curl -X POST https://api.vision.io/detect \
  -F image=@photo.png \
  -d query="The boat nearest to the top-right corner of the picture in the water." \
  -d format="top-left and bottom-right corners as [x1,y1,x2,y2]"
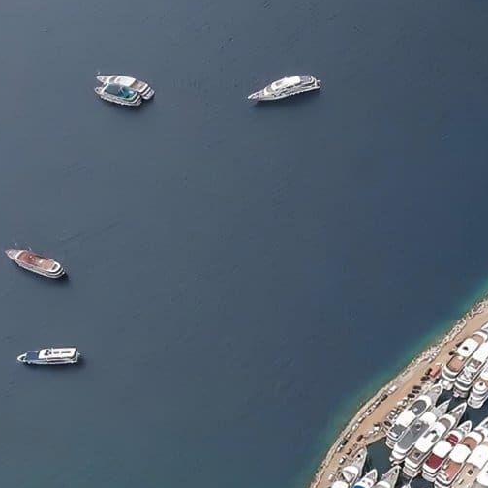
[249,75,323,102]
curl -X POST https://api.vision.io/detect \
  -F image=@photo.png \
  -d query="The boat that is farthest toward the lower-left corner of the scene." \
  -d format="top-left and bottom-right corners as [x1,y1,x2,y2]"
[19,345,82,367]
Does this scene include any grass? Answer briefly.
No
